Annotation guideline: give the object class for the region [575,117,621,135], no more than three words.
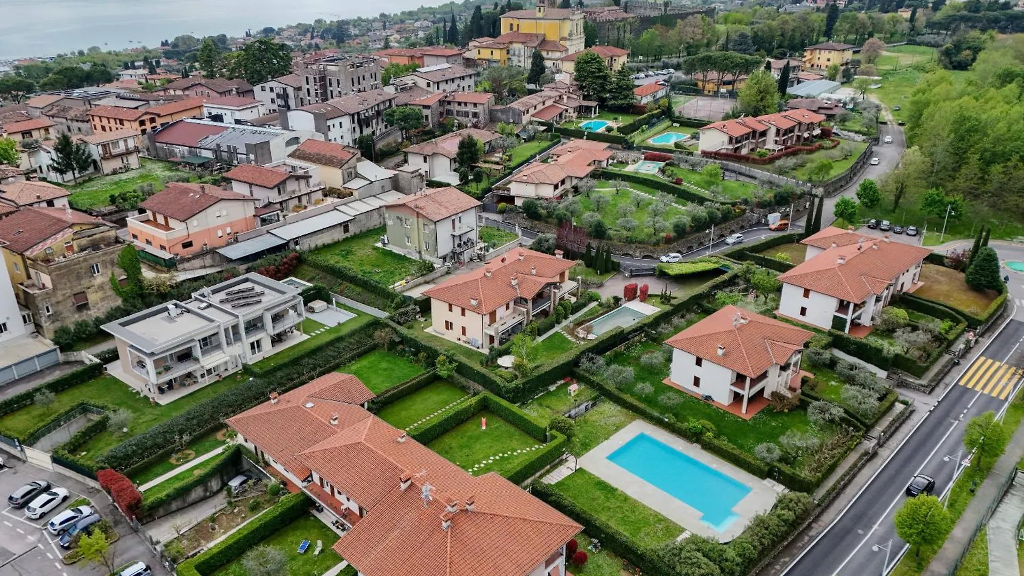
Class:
swimming pool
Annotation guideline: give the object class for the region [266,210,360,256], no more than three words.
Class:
shed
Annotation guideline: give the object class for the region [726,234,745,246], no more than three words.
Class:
vehicle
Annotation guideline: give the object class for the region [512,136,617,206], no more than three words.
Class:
house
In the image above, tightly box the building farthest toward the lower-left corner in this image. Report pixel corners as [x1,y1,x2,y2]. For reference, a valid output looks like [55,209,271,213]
[0,332,63,388]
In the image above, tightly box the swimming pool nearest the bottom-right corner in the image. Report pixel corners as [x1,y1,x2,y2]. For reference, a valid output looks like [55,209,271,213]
[580,424,779,540]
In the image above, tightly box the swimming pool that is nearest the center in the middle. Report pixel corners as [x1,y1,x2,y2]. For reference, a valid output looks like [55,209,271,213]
[576,300,661,340]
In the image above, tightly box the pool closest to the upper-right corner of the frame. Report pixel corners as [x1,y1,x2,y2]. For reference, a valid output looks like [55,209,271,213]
[646,131,690,147]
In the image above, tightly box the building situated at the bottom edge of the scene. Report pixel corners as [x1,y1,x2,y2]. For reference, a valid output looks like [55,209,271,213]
[225,370,585,576]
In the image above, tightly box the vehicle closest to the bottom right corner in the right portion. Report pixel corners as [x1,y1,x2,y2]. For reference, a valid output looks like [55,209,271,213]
[906,474,937,504]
